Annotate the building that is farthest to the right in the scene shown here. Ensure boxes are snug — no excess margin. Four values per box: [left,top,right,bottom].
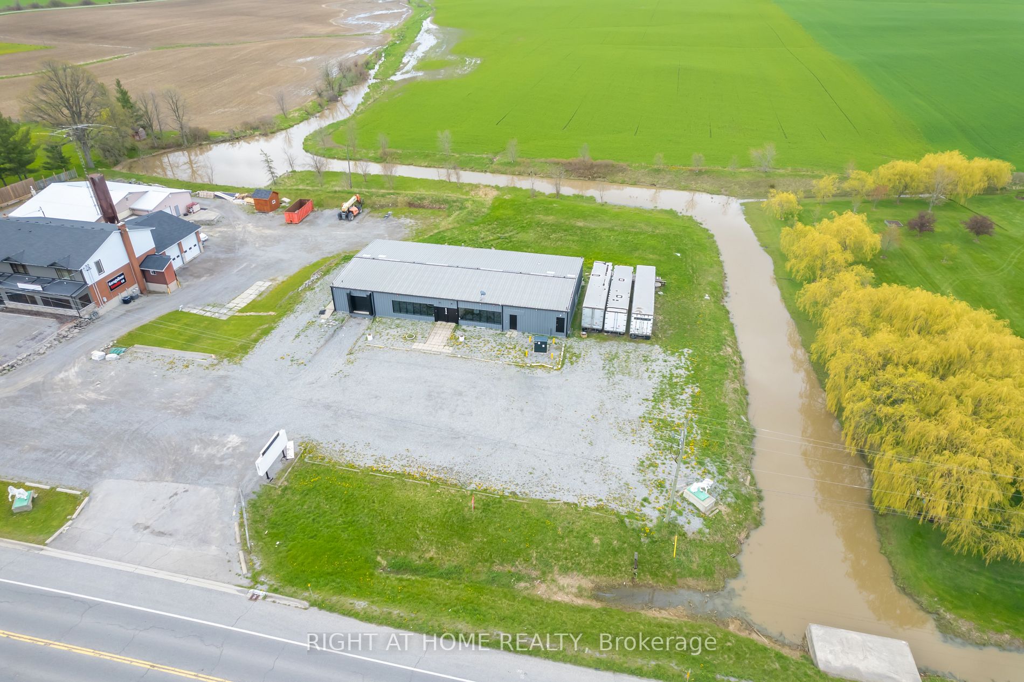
[328,239,585,338]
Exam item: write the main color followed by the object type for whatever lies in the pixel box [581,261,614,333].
white trailer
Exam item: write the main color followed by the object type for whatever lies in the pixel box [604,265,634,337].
white trailer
